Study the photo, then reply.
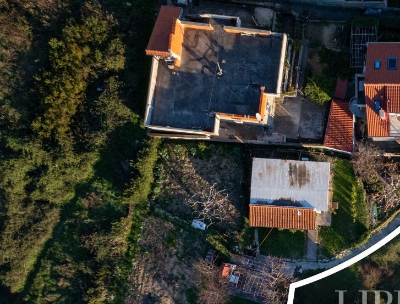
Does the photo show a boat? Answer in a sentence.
No, I find no boat anywhere in the image.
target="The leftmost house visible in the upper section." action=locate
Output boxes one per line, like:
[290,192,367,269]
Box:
[144,5,296,142]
